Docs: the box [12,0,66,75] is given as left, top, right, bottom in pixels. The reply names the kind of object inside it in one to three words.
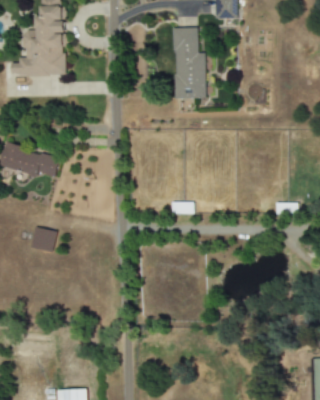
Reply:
house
